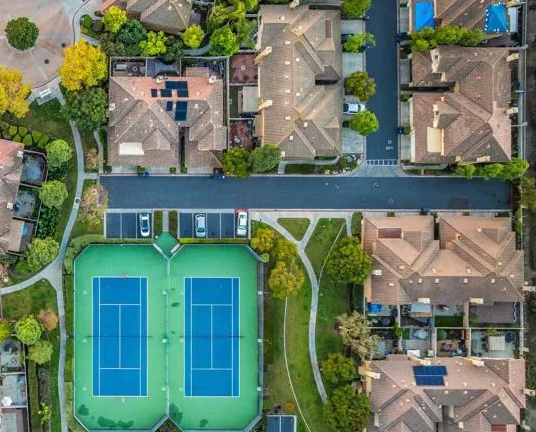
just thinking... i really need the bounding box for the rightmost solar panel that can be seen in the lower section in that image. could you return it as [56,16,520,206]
[414,367,447,384]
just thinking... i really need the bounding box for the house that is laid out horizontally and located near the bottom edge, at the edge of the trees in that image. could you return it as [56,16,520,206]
[357,352,535,432]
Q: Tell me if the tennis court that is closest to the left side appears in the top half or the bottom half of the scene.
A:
bottom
